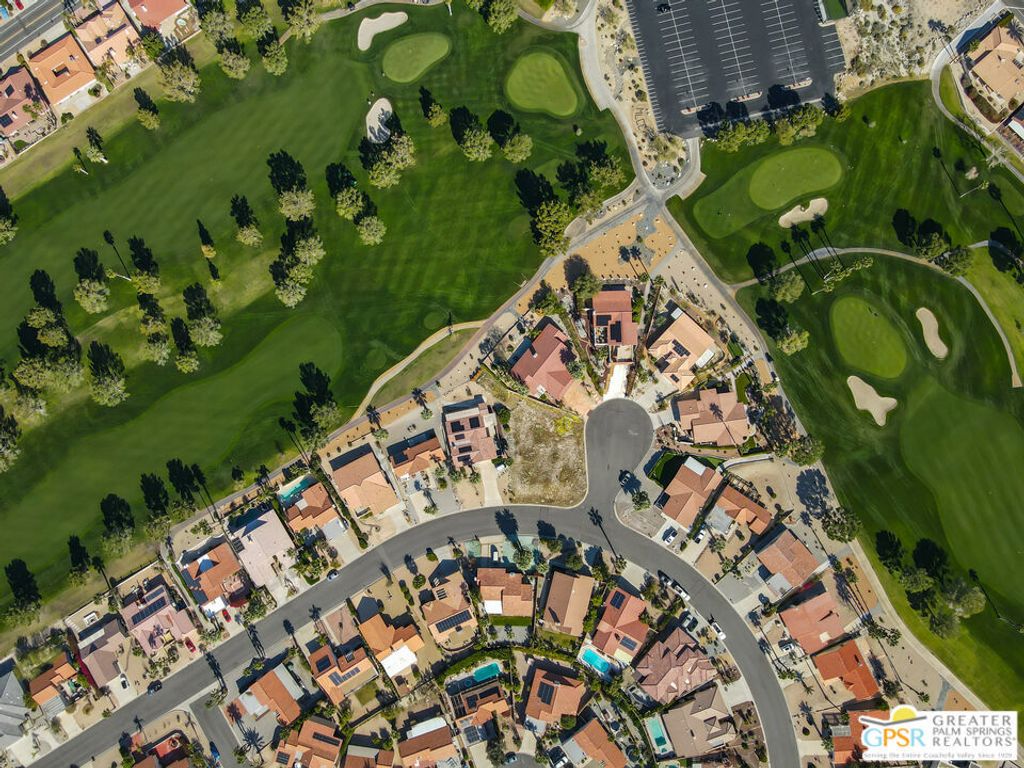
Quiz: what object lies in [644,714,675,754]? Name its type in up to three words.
swimming pool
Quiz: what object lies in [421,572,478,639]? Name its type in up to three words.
house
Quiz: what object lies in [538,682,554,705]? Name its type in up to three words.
solar panel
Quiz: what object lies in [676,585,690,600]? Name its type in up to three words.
vehicle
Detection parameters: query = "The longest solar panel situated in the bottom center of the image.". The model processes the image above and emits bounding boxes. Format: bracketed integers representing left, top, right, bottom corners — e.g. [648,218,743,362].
[436,610,472,633]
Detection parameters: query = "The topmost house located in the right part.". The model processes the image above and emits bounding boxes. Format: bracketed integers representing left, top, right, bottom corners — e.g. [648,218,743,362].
[960,24,1024,115]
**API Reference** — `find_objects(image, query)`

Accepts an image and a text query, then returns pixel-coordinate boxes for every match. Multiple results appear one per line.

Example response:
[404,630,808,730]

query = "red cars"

[185,638,196,651]
[15,0,26,12]
[222,609,232,622]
